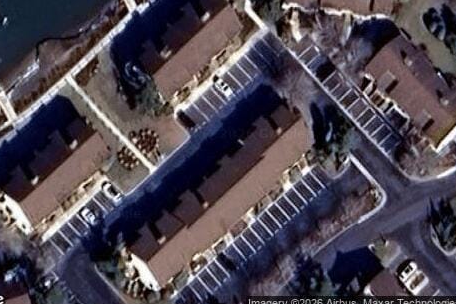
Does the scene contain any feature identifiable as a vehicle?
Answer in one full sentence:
Yes, a vehicle can be made out from above.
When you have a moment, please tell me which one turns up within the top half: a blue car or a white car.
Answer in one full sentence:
You can see a white car within the top half.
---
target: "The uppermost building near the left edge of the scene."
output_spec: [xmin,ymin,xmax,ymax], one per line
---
[6,121,115,236]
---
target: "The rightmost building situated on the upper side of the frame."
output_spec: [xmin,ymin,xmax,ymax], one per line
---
[363,42,456,154]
